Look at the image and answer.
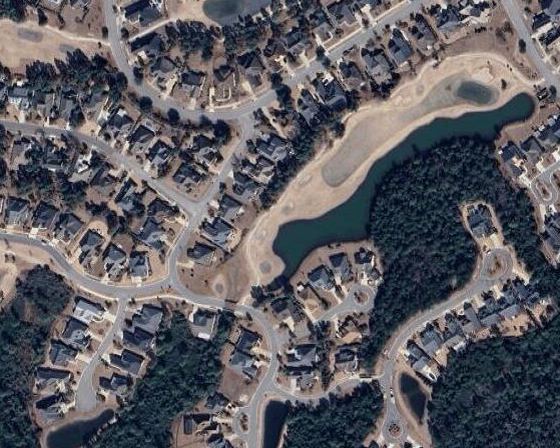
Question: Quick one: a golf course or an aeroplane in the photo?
golf course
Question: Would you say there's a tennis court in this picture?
No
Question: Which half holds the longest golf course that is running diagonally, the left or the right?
right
